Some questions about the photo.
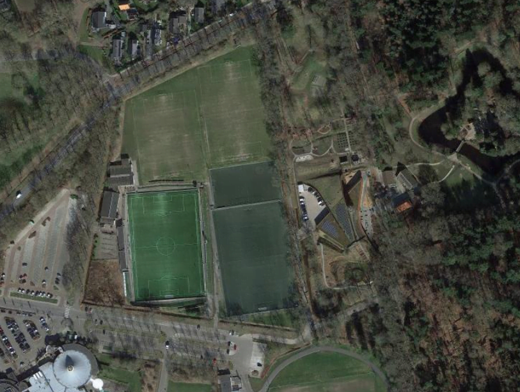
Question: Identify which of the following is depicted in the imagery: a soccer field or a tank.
soccer field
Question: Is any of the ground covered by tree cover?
Yes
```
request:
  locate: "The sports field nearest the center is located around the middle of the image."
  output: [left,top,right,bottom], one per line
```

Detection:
[210,162,280,207]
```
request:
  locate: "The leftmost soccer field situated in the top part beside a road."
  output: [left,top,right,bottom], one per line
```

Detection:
[123,72,208,183]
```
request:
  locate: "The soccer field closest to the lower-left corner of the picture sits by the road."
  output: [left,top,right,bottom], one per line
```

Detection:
[126,189,207,303]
